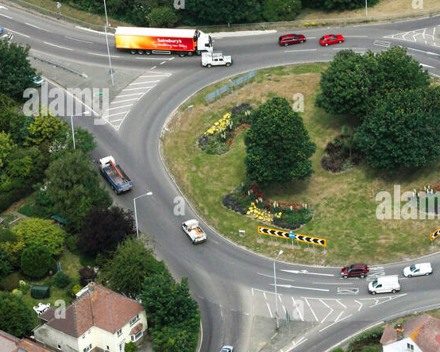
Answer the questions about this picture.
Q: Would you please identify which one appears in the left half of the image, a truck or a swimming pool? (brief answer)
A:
truck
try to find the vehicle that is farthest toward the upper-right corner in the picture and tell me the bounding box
[320,32,343,44]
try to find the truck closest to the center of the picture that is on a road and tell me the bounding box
[182,219,207,243]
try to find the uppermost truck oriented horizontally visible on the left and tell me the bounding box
[113,23,213,56]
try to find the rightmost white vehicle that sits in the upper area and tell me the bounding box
[202,50,233,67]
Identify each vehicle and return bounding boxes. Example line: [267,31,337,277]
[340,259,370,276]
[405,260,433,276]
[113,23,213,56]
[320,32,343,44]
[202,50,233,67]
[366,273,402,295]
[278,31,306,44]
[182,219,207,243]
[218,344,233,352]
[98,150,132,193]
